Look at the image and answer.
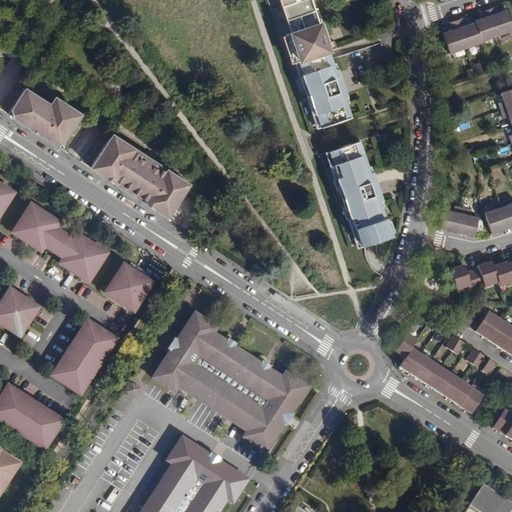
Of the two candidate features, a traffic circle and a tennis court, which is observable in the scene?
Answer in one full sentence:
Looking from above, you can make out a traffic circle.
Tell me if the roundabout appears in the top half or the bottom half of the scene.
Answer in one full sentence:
The bottom half of the photo is where the roundabout is.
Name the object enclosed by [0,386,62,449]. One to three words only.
building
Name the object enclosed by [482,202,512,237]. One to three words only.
house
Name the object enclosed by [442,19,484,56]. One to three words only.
house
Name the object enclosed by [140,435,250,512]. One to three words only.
building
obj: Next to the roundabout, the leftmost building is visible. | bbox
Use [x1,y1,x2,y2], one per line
[152,310,311,450]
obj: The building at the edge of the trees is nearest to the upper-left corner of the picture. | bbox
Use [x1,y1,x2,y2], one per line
[12,90,84,150]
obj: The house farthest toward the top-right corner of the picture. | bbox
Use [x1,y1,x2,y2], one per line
[475,6,512,44]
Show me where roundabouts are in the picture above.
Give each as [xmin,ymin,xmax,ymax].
[331,337,386,392]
